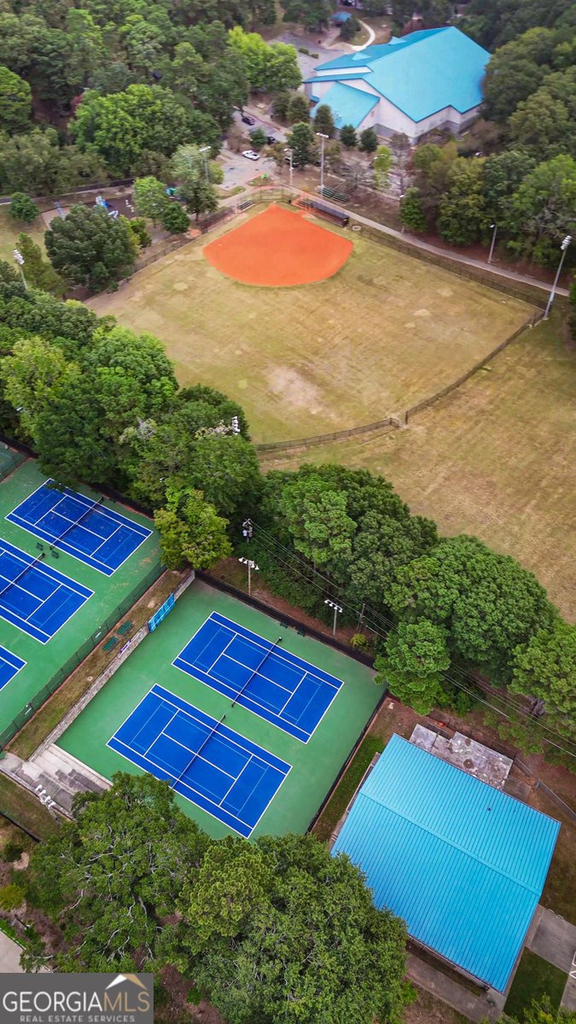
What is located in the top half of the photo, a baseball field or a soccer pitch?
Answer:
baseball field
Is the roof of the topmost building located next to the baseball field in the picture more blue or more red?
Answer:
blue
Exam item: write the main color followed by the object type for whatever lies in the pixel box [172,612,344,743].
blue tennis court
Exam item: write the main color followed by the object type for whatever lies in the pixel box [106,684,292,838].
blue tennis court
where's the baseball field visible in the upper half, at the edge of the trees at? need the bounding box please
[94,194,543,449]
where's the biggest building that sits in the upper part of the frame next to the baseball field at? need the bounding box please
[305,28,513,140]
